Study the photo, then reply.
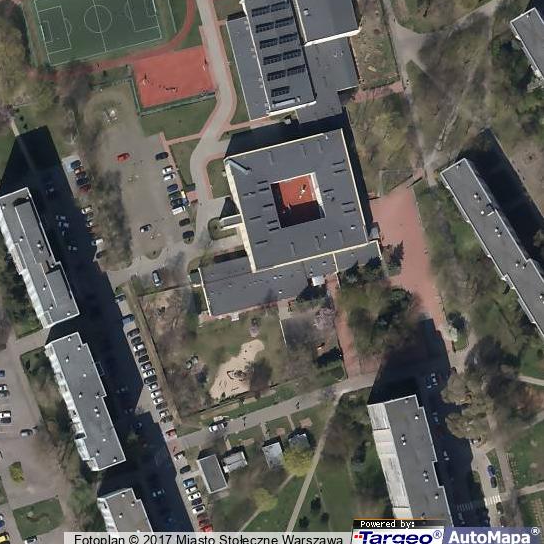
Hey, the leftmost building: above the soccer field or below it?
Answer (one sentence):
Within the scene, the leftmost building can be found below the soccer field.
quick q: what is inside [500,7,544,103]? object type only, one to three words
building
